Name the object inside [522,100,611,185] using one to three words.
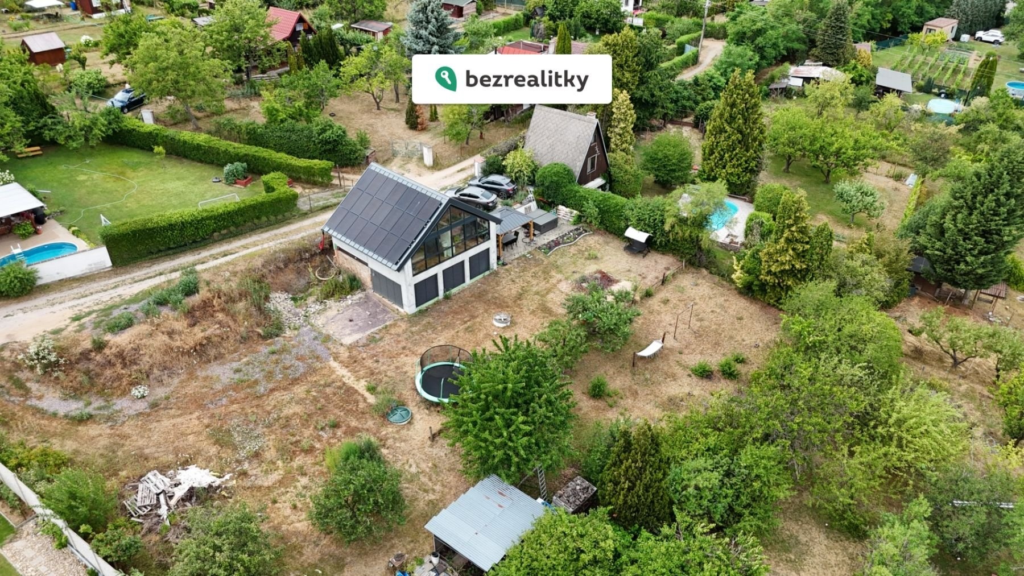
house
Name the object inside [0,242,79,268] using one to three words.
swimming pool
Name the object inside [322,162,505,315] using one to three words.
house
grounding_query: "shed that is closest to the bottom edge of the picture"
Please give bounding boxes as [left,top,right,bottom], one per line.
[424,477,544,576]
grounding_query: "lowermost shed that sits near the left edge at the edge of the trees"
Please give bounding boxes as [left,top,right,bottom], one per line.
[17,28,65,63]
